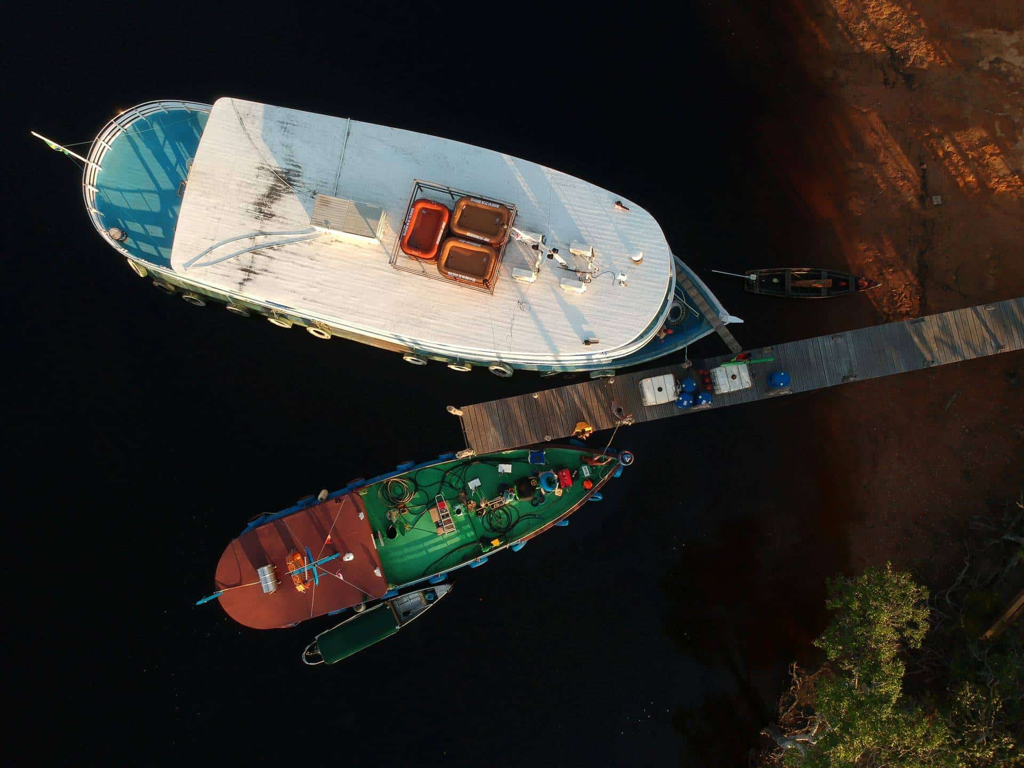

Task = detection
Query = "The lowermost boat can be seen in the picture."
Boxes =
[302,581,457,669]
